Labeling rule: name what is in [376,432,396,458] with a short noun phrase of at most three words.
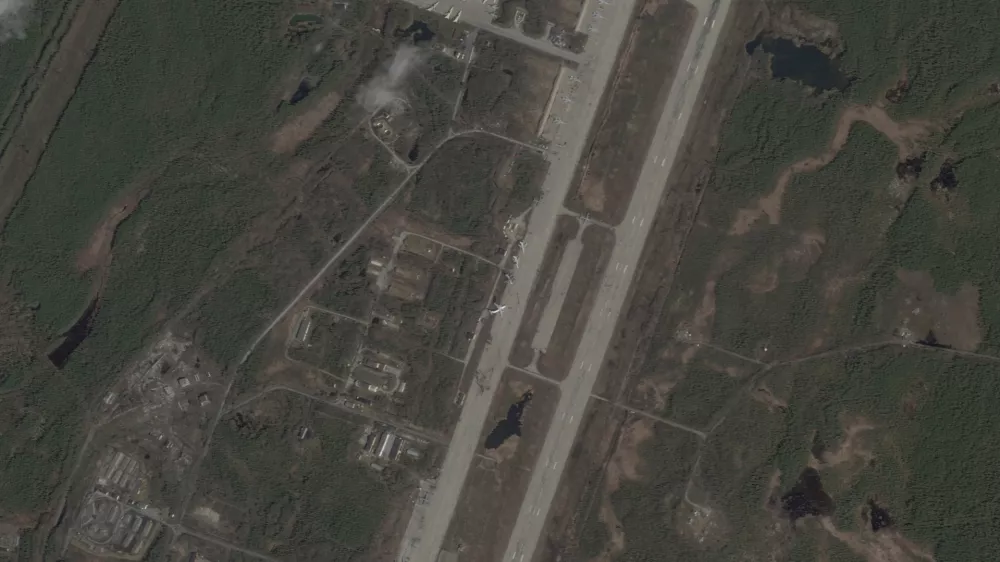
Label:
hangar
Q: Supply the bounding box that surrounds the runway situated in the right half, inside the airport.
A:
[503,0,730,562]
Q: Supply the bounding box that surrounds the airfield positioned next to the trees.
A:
[394,0,730,562]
